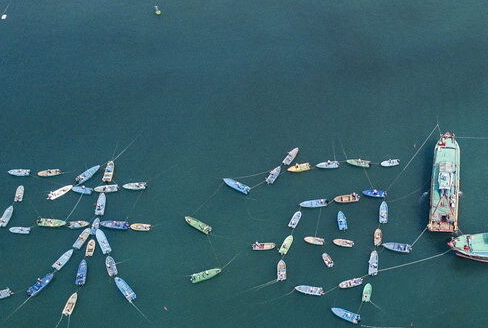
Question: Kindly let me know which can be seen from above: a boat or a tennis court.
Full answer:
It is a boat that can be seen here.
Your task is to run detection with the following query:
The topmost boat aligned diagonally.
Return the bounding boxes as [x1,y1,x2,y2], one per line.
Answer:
[282,147,299,166]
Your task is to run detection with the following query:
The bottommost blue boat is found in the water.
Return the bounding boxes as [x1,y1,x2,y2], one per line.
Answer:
[331,308,361,324]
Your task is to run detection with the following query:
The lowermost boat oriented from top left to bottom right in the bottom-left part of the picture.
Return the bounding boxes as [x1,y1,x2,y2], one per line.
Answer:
[116,277,138,303]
